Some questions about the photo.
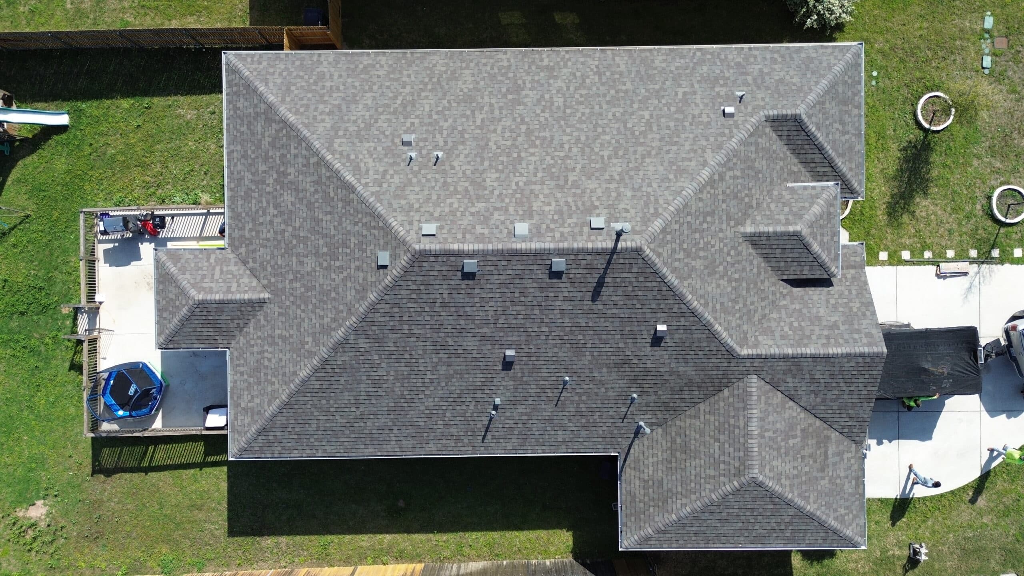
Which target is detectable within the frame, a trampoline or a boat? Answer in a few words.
trampoline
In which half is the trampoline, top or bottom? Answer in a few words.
bottom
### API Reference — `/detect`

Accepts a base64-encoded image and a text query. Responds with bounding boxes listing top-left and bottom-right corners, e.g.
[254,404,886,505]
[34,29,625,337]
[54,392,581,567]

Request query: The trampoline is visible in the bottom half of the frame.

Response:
[87,362,167,422]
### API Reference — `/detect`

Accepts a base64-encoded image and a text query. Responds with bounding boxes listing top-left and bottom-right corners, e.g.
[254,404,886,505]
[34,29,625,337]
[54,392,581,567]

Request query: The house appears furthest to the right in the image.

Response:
[155,42,887,550]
